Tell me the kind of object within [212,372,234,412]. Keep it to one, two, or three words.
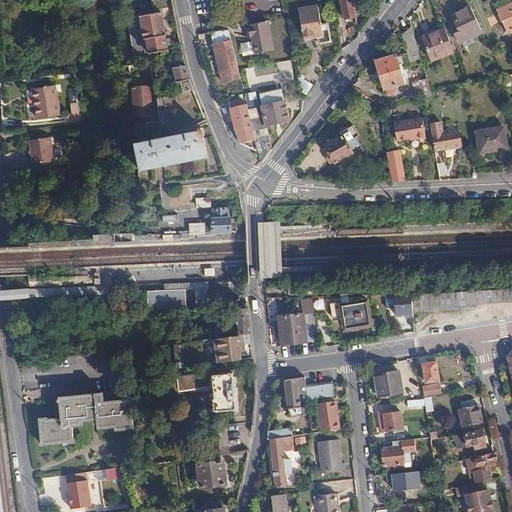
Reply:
building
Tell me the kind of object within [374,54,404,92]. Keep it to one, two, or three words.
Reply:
house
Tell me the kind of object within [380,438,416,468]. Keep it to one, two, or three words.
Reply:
house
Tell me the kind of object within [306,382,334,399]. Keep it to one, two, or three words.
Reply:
building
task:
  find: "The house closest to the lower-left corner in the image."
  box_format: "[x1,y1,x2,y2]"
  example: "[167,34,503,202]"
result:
[68,472,92,508]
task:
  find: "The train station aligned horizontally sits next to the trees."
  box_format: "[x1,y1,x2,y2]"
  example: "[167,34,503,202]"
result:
[0,219,512,282]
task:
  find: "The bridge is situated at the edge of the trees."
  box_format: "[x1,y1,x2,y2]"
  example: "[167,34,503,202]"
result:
[246,202,261,302]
